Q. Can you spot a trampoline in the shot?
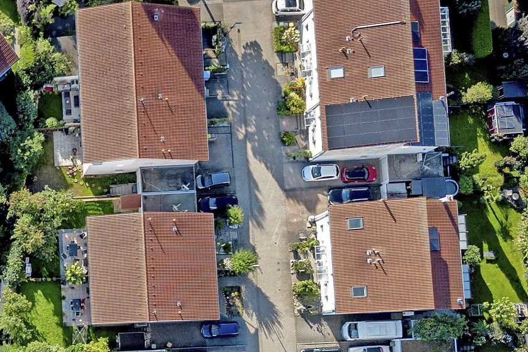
No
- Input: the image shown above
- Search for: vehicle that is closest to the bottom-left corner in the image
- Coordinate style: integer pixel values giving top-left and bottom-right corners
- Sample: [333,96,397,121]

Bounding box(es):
[200,321,238,339]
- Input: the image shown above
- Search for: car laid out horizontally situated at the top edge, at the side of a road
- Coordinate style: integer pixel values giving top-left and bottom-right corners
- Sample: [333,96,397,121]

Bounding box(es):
[271,0,305,16]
